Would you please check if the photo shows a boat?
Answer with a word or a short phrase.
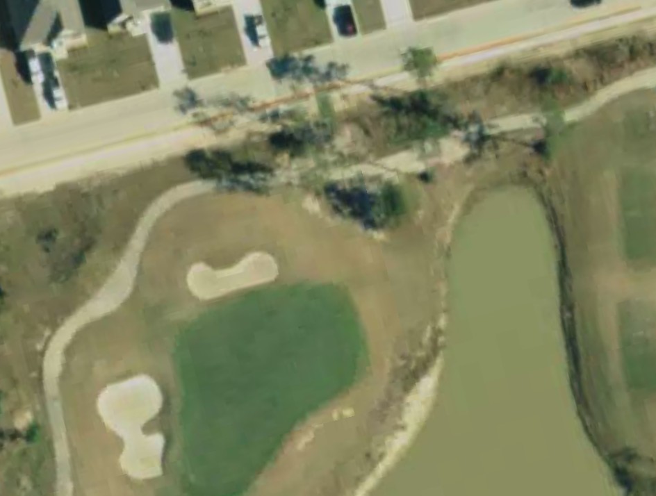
No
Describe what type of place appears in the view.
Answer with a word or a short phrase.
golf course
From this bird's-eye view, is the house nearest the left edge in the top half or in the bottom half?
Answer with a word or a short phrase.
top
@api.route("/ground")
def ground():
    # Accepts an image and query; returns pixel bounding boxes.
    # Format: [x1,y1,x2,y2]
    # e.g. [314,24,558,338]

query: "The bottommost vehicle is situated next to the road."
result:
[52,79,68,112]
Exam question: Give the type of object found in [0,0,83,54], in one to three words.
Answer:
house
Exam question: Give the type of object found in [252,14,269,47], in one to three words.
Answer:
vehicle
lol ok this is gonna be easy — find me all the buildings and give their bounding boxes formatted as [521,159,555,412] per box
[0,0,83,54]
[189,0,253,18]
[97,0,168,37]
